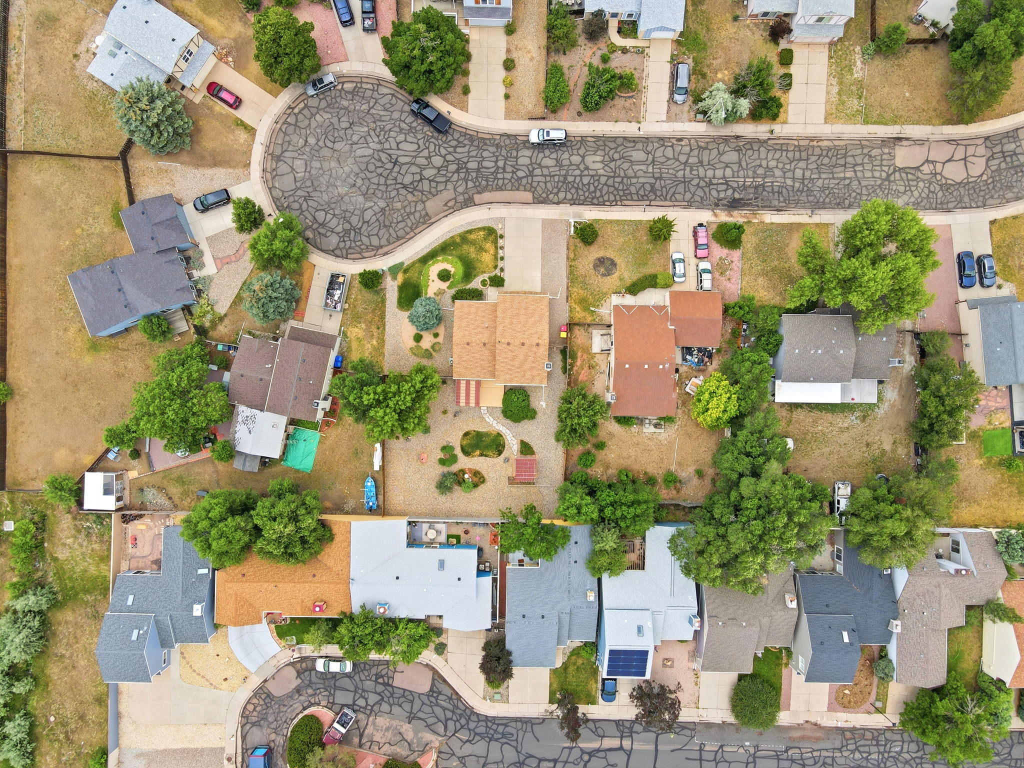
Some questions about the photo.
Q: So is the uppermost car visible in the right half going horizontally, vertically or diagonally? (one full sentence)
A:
The uppermost car visible in the right half is oriented vertically.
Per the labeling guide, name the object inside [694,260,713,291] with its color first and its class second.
white car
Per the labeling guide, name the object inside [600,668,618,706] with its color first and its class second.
blue car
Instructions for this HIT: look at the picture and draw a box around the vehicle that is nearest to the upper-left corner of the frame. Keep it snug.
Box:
[206,80,245,114]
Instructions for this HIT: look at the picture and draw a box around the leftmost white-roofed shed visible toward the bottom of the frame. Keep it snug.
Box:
[83,471,127,510]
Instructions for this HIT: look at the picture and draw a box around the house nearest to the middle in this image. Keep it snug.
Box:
[444,292,558,407]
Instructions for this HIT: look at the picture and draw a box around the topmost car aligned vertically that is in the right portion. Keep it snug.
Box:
[671,62,691,105]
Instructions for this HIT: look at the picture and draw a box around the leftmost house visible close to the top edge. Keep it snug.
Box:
[86,0,219,93]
